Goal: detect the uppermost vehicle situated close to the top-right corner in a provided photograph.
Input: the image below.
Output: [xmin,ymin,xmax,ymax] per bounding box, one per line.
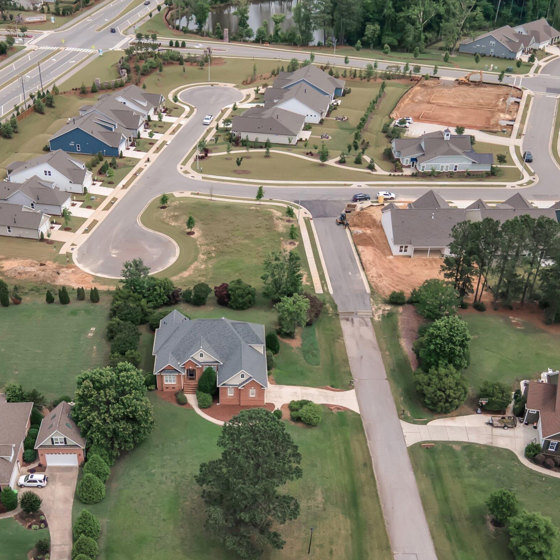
[455,67,490,86]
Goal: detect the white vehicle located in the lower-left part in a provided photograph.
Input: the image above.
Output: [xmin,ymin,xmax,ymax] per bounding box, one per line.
[16,472,50,489]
